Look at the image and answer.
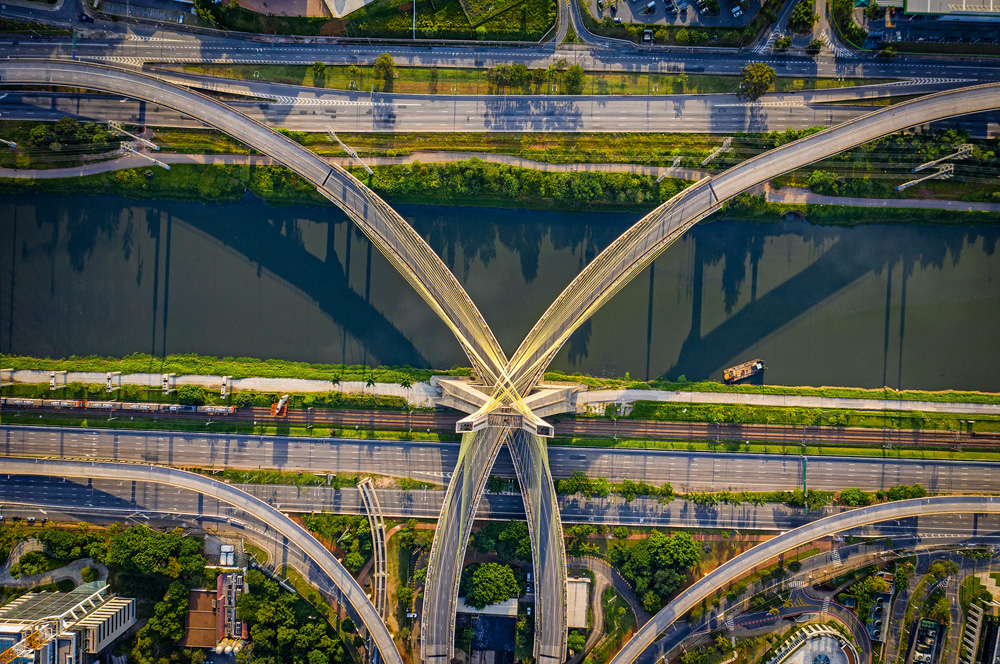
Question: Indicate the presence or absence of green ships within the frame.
No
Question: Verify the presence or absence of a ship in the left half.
No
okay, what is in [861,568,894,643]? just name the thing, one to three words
house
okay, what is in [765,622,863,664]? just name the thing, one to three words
building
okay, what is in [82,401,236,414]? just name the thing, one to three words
train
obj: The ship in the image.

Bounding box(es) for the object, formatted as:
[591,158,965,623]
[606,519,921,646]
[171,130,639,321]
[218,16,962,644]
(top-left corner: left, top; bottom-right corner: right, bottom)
[726,356,765,382]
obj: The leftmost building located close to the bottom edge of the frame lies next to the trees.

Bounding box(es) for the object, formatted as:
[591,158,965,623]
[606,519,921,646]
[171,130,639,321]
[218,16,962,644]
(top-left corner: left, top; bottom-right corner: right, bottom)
[0,574,135,664]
